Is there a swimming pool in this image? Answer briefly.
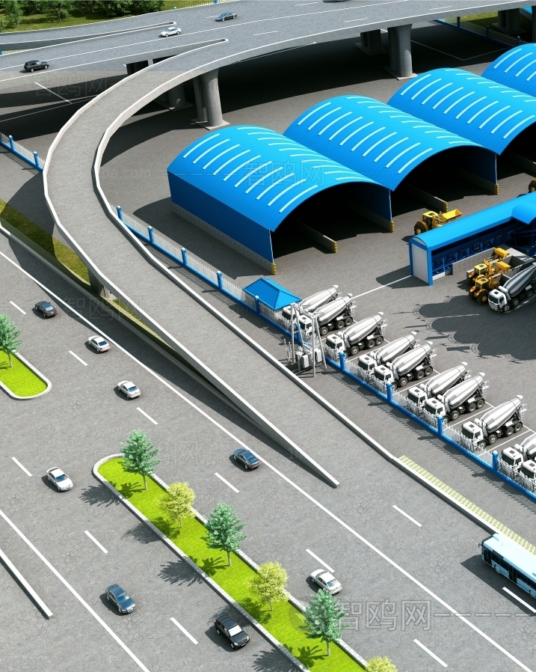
No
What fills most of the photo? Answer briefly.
paved ground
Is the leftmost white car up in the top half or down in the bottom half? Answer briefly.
bottom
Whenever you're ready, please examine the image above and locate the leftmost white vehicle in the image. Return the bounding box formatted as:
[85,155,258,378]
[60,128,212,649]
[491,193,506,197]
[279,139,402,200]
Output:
[47,466,74,491]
